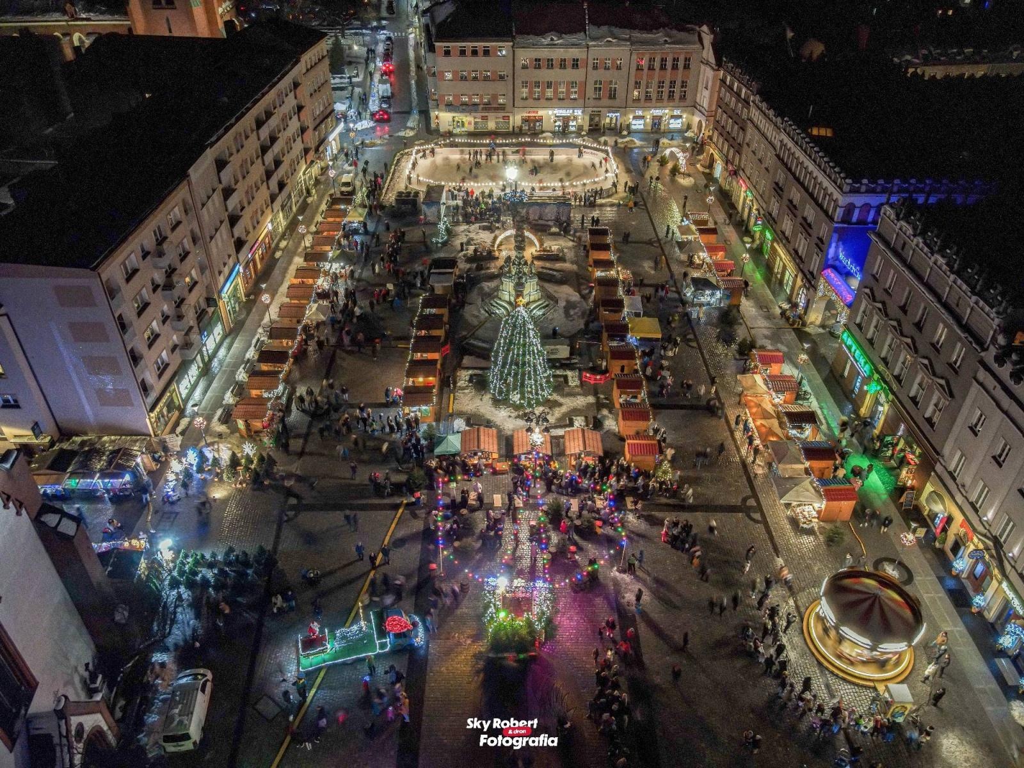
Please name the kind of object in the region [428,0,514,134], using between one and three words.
house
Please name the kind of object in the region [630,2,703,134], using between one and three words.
house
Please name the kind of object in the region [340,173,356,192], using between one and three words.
vehicle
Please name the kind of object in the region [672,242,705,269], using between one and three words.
tent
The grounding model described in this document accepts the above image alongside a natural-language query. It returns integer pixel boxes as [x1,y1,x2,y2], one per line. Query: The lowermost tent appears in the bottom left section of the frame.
[102,532,170,588]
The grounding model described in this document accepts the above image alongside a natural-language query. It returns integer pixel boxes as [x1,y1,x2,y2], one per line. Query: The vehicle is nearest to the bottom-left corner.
[161,661,218,744]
